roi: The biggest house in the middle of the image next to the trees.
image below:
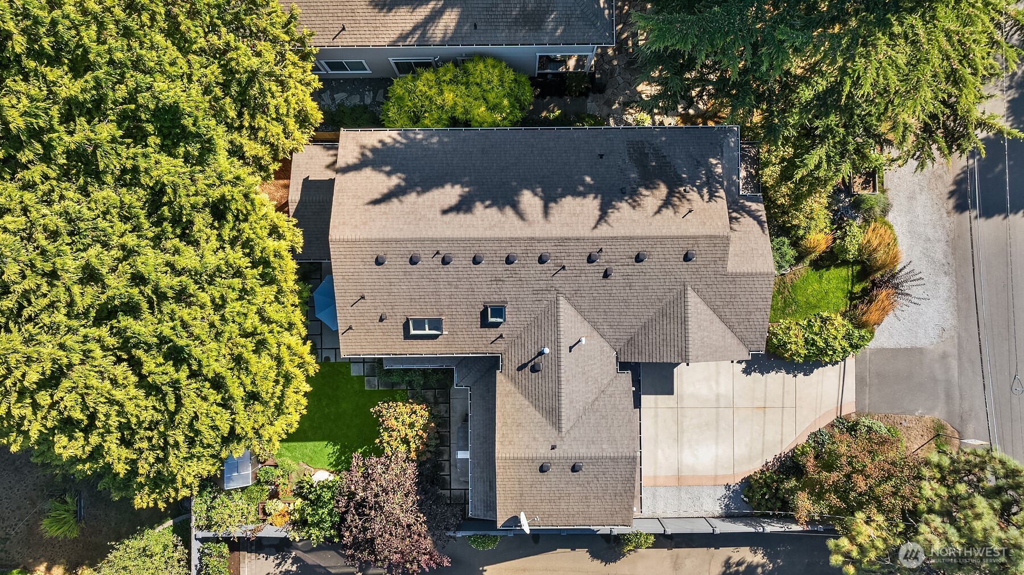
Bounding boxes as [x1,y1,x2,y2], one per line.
[288,127,773,529]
